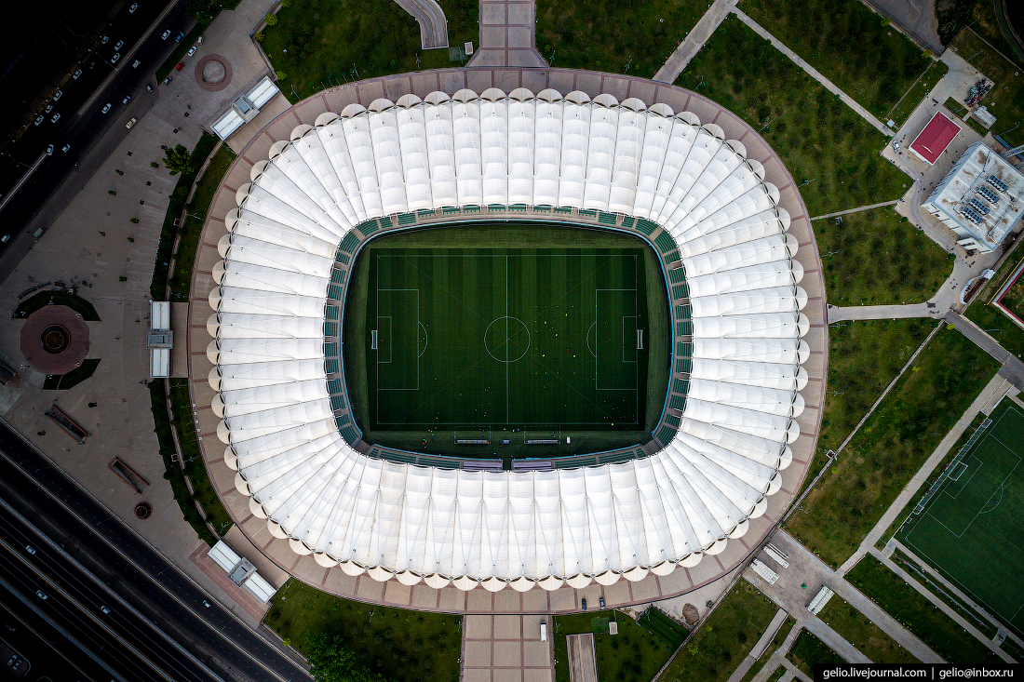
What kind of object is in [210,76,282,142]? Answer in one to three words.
building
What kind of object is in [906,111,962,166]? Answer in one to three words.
house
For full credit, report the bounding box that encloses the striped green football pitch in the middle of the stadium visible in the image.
[348,226,666,457]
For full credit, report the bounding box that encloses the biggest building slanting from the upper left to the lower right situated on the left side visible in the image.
[208,538,279,604]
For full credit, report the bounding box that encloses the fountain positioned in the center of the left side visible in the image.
[21,306,88,374]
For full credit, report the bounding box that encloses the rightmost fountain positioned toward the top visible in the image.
[195,53,232,91]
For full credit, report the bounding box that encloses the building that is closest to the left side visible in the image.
[146,301,181,378]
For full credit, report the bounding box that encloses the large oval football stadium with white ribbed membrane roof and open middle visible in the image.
[206,87,809,591]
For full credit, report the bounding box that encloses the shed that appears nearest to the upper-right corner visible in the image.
[971,107,996,130]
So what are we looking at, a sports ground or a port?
sports ground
